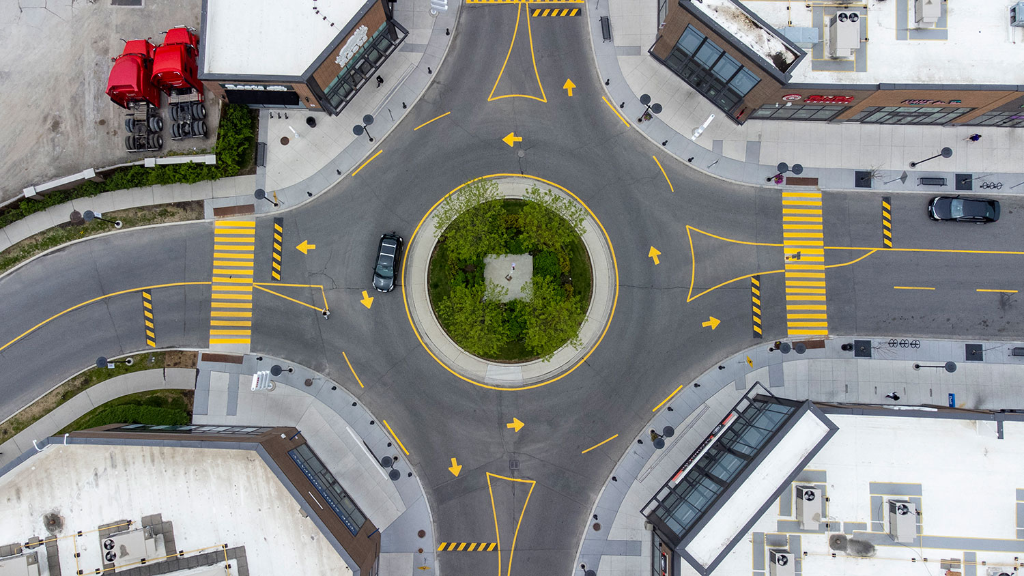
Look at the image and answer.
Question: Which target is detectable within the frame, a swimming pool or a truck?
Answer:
truck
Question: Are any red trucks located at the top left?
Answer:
Yes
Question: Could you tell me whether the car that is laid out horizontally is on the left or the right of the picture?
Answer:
right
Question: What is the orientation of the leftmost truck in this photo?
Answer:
vertically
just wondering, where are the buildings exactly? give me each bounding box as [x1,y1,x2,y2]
[0,424,381,576]
[637,376,1024,576]
[199,0,409,113]
[648,0,1024,127]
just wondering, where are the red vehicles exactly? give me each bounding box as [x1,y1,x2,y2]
[154,30,205,138]
[107,42,162,151]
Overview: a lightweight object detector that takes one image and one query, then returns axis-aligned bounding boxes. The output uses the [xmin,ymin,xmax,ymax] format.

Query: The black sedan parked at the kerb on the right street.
[930,193,1002,224]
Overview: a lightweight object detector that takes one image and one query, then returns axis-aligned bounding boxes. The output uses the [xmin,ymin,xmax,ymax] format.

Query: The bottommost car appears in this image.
[369,230,405,294]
